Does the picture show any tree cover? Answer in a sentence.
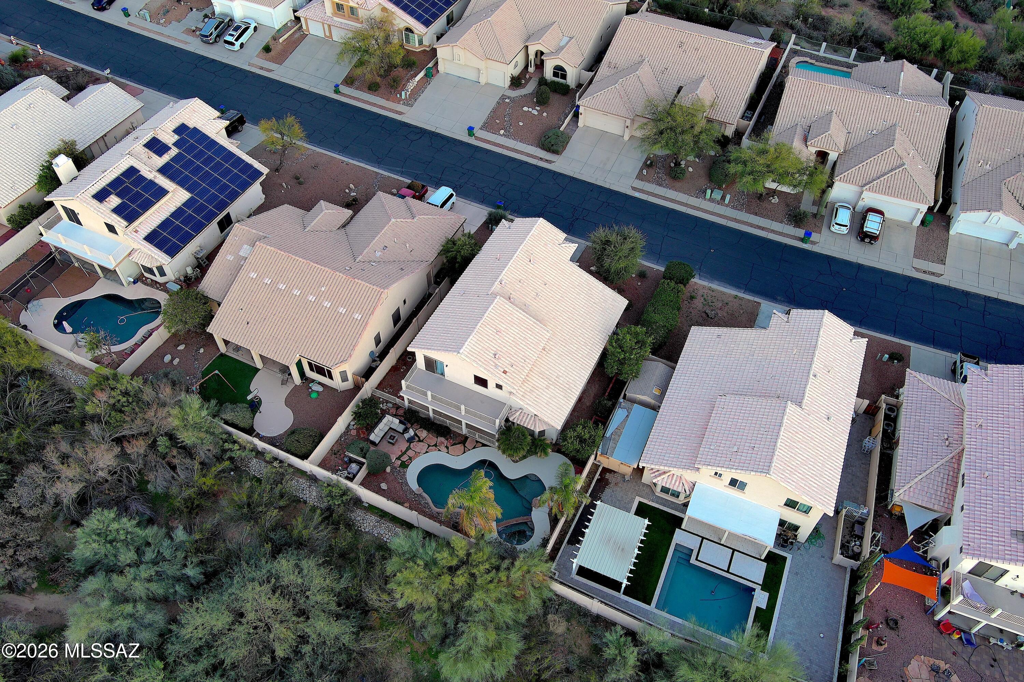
Yes, there's tree cover in this view.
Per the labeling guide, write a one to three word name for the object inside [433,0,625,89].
house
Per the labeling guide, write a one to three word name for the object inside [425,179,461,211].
car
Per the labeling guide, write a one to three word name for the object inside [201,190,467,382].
house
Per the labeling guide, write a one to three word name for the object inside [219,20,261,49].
car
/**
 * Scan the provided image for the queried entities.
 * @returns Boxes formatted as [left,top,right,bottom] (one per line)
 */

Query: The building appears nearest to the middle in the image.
[399,213,630,452]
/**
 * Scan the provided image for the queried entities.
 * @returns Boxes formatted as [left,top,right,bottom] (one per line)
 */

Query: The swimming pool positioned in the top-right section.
[795,59,853,76]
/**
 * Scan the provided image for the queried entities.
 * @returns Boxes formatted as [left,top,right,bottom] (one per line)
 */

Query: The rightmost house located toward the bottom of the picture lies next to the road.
[890,364,1024,648]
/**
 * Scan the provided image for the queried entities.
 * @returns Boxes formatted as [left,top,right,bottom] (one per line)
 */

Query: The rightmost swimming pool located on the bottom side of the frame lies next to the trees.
[656,544,757,643]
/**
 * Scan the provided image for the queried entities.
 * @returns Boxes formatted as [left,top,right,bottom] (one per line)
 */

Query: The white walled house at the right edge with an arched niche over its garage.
[951,90,1024,252]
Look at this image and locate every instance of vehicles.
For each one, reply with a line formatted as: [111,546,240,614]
[219,100,254,139]
[193,13,237,44]
[425,179,461,211]
[394,172,434,201]
[827,202,855,238]
[83,0,125,14]
[952,340,982,385]
[219,20,261,49]
[855,208,887,249]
